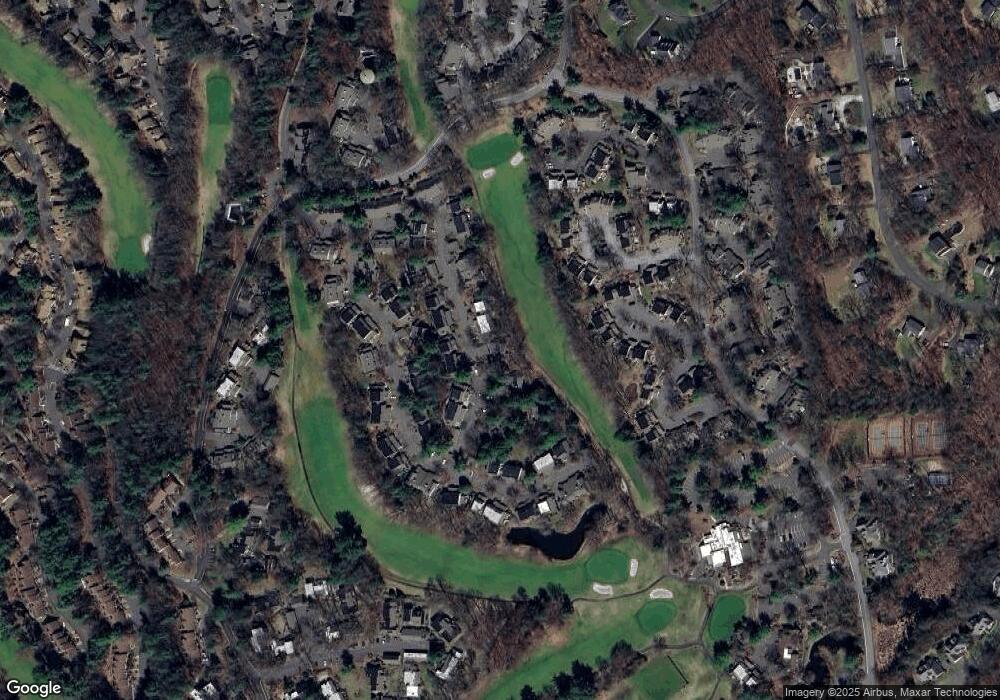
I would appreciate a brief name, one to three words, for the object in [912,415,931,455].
tennis court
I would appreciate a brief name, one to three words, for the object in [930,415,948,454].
tennis court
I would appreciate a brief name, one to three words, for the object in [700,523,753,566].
building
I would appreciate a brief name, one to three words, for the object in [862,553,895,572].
house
